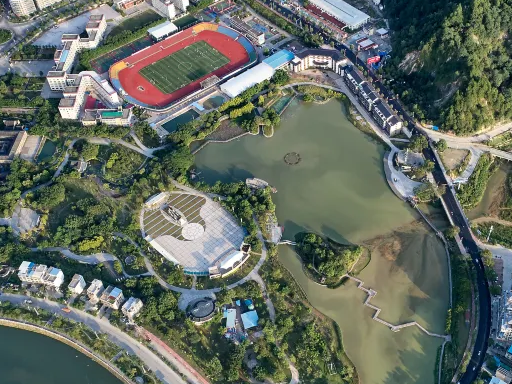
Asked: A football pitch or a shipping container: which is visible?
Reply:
football pitch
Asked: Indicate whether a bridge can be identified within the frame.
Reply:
Yes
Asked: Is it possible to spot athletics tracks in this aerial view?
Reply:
Yes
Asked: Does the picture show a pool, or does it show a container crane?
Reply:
pool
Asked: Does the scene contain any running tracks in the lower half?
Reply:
No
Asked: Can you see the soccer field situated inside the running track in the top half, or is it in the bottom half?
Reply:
top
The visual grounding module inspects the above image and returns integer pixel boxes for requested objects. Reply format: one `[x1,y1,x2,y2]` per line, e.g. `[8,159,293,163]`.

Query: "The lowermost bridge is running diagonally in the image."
[347,274,451,341]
